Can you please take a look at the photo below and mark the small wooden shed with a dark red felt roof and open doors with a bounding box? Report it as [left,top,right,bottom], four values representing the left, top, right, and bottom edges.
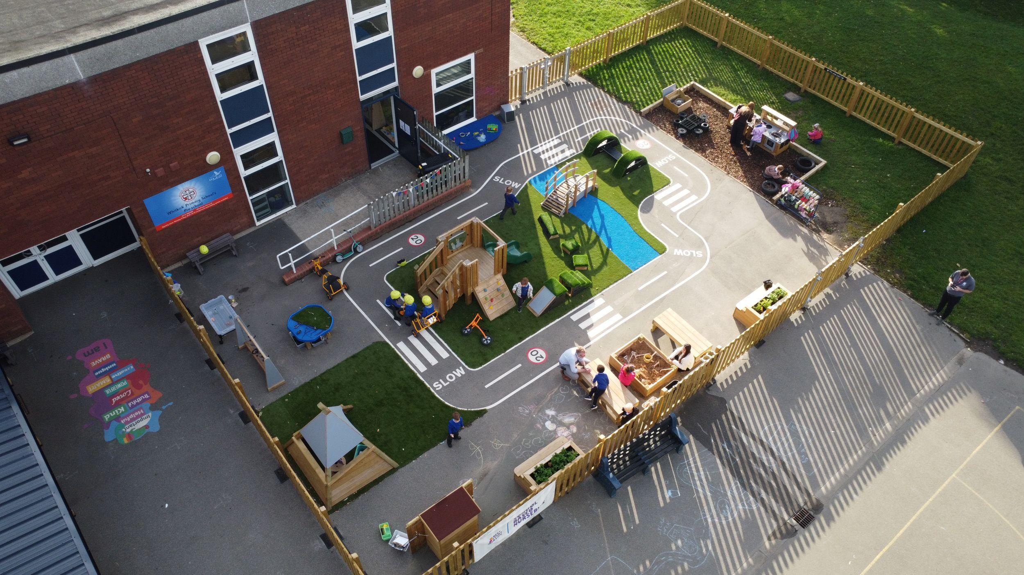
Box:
[397,477,480,560]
